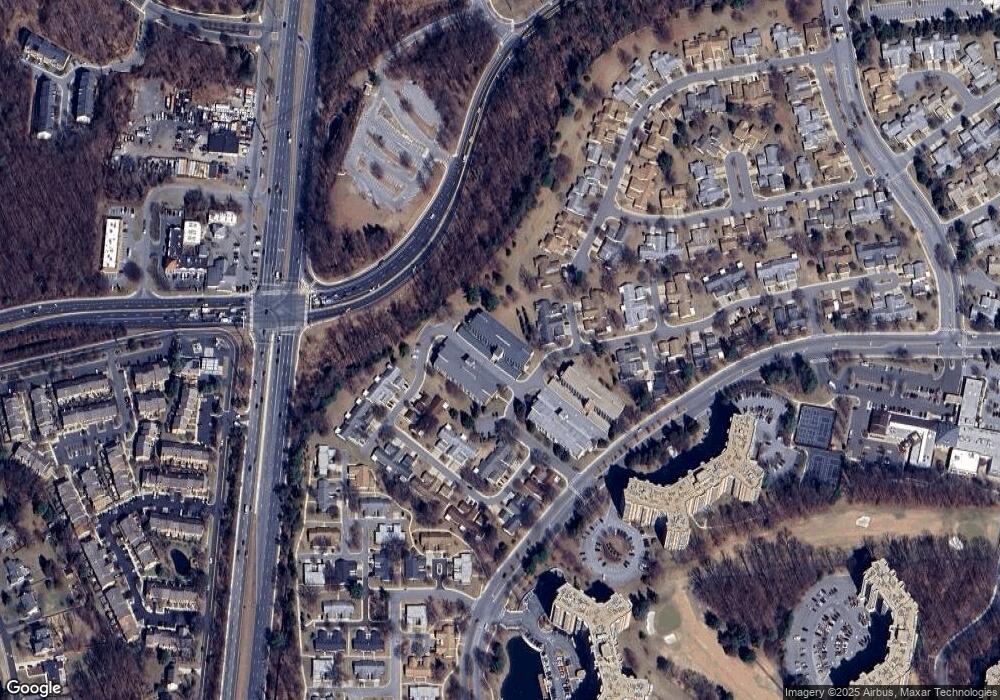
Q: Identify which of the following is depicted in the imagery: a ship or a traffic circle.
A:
traffic circle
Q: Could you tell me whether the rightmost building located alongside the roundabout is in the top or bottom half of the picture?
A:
bottom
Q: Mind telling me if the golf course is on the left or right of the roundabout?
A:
on its right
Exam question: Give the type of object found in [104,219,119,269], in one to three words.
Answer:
building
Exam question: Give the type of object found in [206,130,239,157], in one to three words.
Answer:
shed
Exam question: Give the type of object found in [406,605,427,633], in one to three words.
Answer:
building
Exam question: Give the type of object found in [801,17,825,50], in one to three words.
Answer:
house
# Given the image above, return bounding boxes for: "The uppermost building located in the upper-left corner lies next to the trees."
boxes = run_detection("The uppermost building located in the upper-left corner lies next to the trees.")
[24,34,70,72]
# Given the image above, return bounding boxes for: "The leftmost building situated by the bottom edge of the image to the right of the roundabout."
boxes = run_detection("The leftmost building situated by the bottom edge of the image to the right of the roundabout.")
[842,557,920,700]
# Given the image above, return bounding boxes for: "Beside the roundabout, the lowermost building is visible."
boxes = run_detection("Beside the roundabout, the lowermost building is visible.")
[555,581,653,700]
